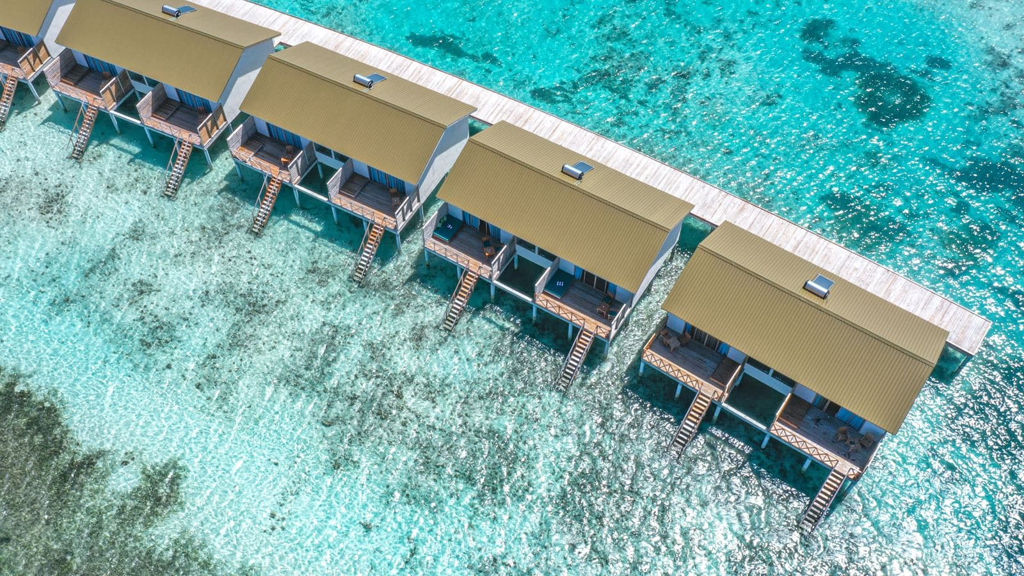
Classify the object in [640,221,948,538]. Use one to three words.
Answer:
house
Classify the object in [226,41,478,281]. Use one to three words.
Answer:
house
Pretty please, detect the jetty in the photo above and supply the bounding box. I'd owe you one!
[188,0,994,370]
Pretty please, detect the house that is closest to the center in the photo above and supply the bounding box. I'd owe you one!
[422,120,694,392]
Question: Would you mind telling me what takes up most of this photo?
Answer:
water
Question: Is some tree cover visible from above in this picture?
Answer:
No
